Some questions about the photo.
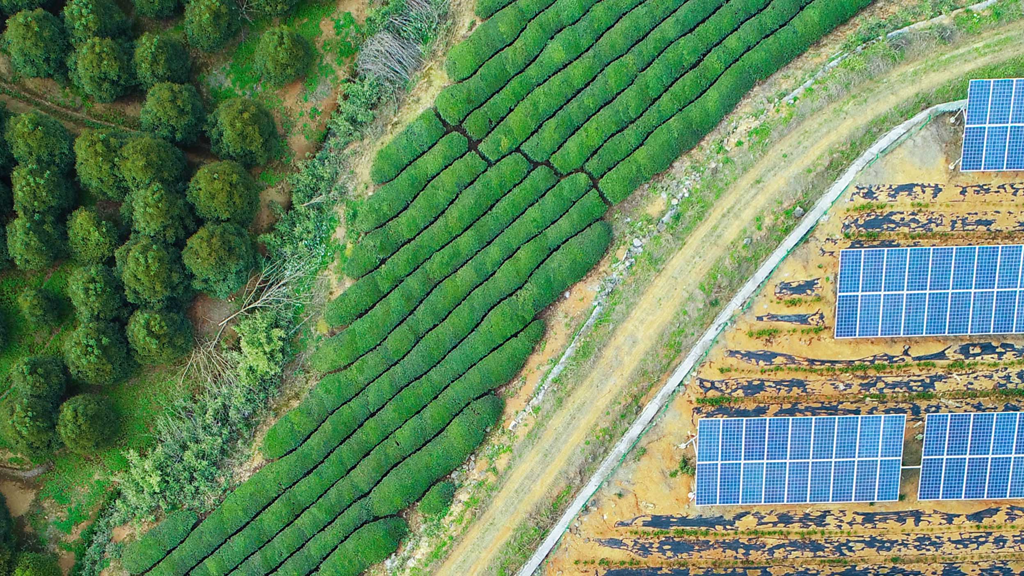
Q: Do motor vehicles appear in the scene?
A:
No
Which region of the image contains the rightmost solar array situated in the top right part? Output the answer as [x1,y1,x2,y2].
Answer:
[948,79,1024,171]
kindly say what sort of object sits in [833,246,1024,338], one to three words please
solar array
